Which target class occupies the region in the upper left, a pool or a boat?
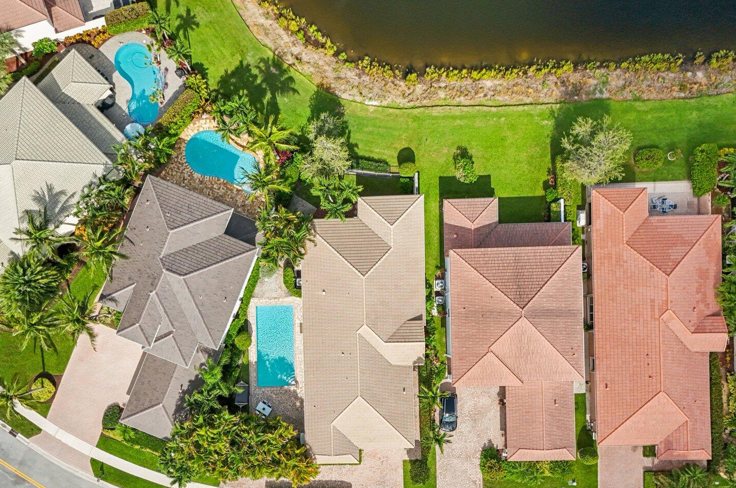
pool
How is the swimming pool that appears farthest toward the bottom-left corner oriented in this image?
from top to bottom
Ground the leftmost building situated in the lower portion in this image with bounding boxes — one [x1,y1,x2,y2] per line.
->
[98,173,258,446]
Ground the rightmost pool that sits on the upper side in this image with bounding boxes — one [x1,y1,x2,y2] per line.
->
[182,128,264,195]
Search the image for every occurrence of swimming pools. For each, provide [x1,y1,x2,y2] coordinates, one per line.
[112,40,167,125]
[182,128,264,195]
[255,304,299,394]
